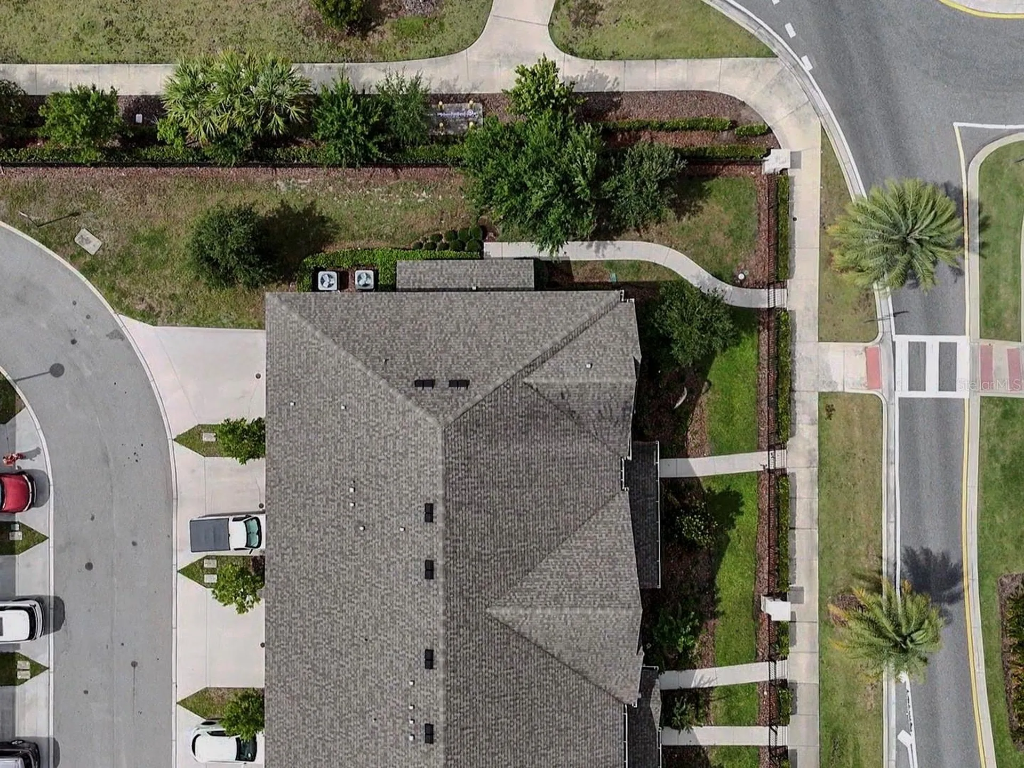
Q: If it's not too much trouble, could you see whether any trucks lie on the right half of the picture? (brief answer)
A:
No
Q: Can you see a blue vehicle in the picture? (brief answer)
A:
No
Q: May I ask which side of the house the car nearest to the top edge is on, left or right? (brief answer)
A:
left of it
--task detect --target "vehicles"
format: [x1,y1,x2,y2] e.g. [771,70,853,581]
[193,715,266,763]
[188,511,265,555]
[0,596,47,637]
[0,472,39,510]
[0,735,44,768]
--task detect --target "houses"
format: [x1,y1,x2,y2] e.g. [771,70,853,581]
[264,259,664,768]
